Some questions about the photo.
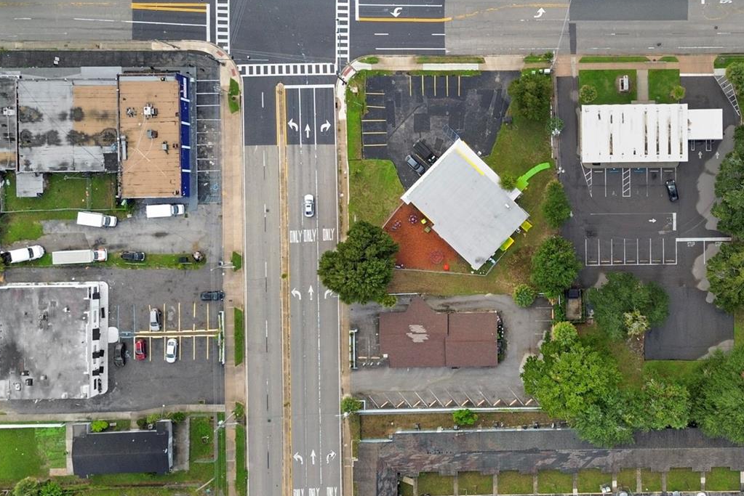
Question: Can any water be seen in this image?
No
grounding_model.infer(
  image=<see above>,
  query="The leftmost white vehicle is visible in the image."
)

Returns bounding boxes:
[7,246,43,263]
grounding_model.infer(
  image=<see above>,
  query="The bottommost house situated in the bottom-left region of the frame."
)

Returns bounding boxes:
[68,417,178,476]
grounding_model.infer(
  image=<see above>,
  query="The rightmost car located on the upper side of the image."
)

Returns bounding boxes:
[666,178,678,202]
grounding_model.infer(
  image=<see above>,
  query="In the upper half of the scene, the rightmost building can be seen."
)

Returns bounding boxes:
[582,104,722,166]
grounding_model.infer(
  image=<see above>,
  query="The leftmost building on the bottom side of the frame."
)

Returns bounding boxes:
[0,280,119,401]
